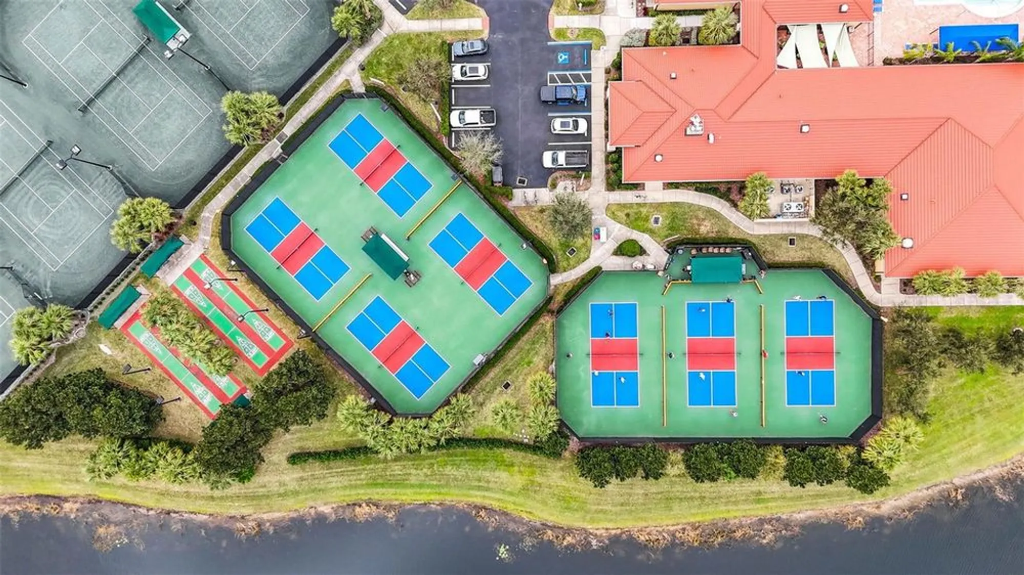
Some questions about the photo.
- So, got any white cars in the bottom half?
No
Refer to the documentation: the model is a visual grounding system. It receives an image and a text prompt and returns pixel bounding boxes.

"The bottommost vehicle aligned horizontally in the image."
[541,149,589,168]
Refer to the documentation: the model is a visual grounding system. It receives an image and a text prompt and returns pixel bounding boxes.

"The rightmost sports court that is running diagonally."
[428,212,534,316]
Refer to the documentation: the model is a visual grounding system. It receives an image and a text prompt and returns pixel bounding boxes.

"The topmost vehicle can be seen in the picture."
[451,38,488,58]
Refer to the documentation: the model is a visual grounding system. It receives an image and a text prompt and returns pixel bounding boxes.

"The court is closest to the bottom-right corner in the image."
[779,300,844,407]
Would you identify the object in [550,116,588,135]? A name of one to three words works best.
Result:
car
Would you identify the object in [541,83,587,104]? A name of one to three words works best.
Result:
truck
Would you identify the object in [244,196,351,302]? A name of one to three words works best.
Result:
sports court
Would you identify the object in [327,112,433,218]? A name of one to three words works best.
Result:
sports court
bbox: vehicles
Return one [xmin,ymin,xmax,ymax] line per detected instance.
[492,167,502,186]
[450,108,496,128]
[452,62,489,81]
[541,149,589,168]
[550,116,588,135]
[541,83,587,104]
[451,38,488,58]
